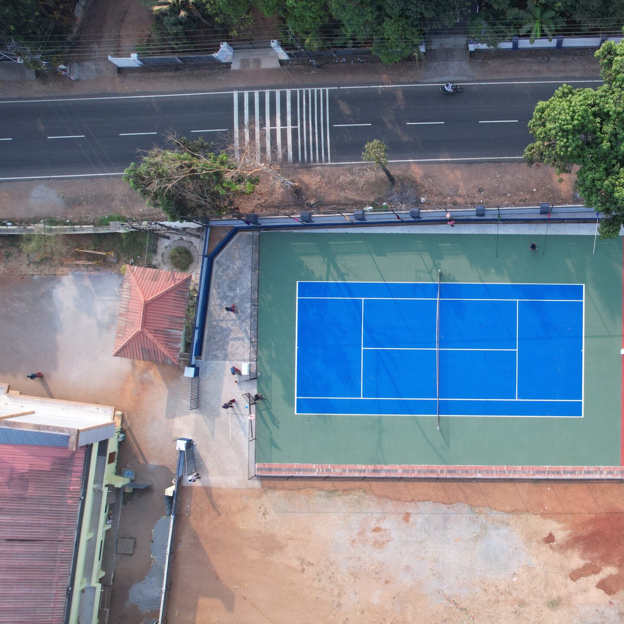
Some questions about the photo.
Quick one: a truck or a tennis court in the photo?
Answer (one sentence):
Looking from above, you can make out a tennis court.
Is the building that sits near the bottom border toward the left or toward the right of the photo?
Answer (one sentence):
The building that sits near the bottom border appears in the left half of the scene.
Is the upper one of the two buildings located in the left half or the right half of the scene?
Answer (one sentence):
It is on the left.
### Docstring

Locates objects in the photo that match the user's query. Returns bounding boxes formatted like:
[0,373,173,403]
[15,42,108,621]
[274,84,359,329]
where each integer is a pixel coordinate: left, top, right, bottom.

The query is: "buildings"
[111,265,194,366]
[0,382,151,624]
